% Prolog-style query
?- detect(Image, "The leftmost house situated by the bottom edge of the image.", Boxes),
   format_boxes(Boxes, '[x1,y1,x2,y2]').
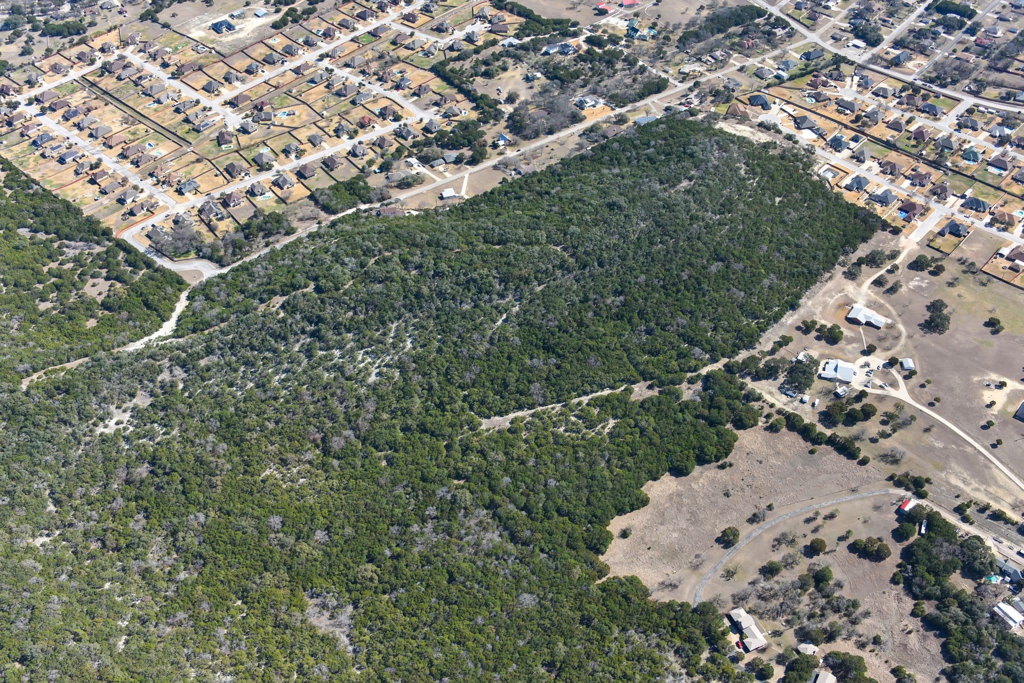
[728,606,764,655]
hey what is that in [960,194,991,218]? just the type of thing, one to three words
house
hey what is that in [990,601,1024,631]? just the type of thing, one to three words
barn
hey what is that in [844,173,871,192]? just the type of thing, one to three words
house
